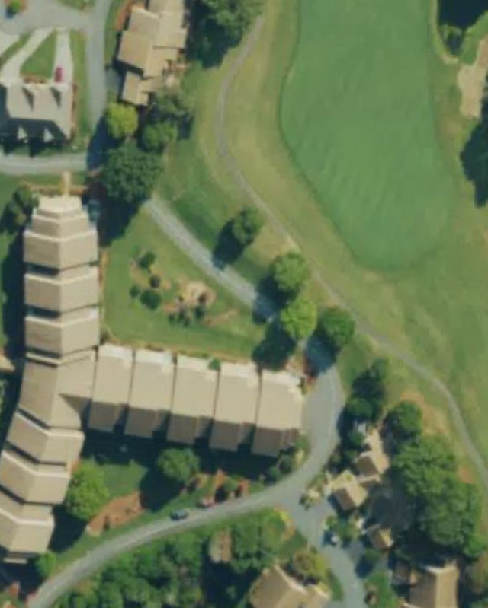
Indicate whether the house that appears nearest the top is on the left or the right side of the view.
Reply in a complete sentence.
The house that appears nearest the top appears in the left half of the scene.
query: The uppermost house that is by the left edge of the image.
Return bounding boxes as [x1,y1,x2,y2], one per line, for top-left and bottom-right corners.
[0,82,74,142]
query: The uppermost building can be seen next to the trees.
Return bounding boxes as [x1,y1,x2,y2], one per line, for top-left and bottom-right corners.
[115,0,189,107]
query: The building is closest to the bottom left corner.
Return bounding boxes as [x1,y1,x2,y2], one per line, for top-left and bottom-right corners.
[0,491,56,565]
